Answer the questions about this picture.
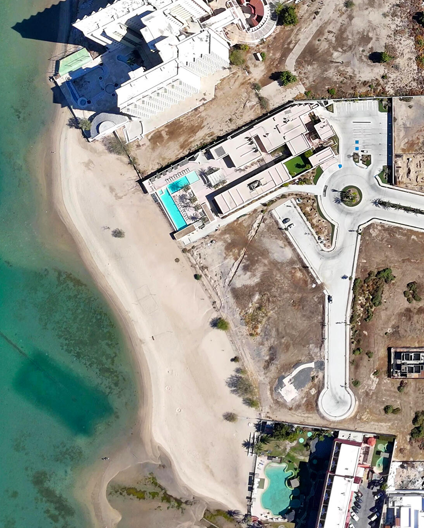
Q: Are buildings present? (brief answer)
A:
Yes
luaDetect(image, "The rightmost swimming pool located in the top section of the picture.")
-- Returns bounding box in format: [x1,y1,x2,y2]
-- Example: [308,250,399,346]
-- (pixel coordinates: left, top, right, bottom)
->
[155,170,201,232]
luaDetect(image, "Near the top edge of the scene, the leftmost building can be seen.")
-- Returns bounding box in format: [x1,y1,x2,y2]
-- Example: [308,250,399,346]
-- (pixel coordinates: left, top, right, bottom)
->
[73,0,236,117]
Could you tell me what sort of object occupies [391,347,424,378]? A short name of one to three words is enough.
house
